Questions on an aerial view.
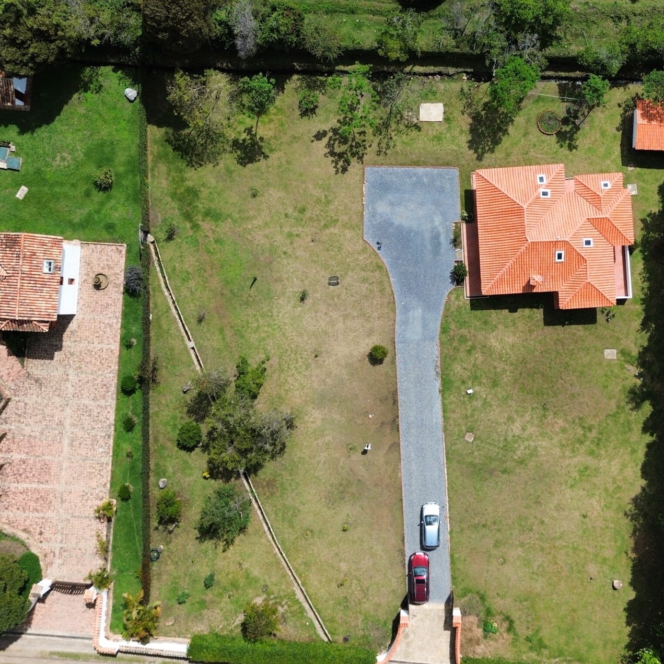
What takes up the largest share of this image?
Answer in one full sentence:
Most of the picture is covered by grass.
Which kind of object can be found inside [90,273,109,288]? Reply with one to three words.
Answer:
fountain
